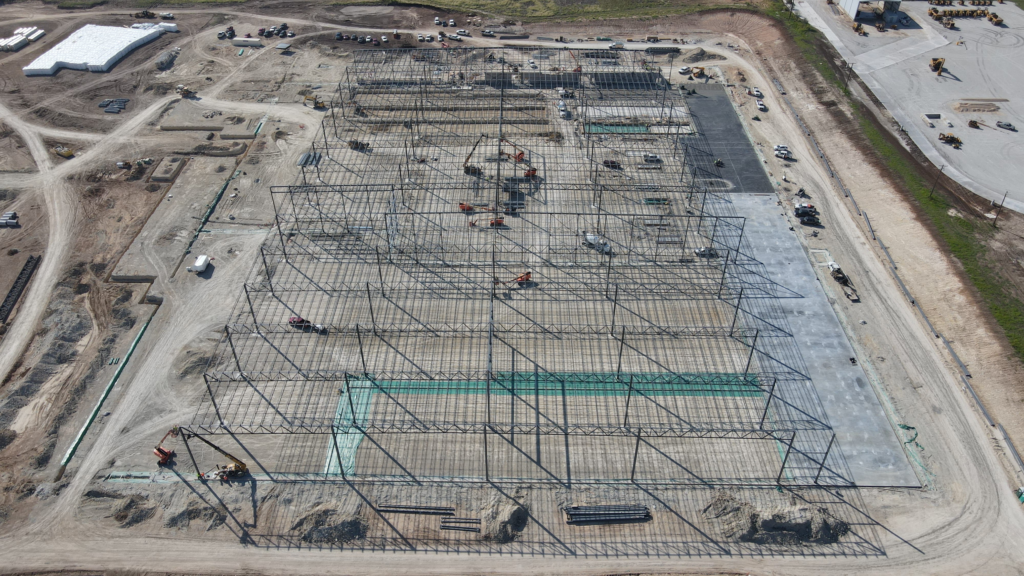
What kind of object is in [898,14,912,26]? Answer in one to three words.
vehicle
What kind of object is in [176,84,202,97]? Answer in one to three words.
vehicle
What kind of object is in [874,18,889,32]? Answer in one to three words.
work vehicle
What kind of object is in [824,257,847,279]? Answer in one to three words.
truck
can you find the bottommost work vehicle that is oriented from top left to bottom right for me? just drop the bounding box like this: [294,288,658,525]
[178,431,248,483]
